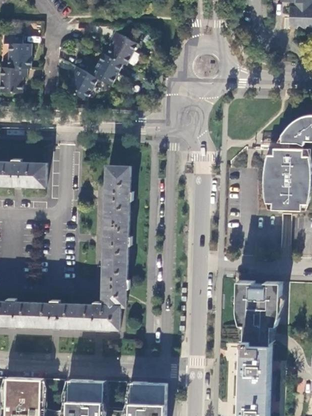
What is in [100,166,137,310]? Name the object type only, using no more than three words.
building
